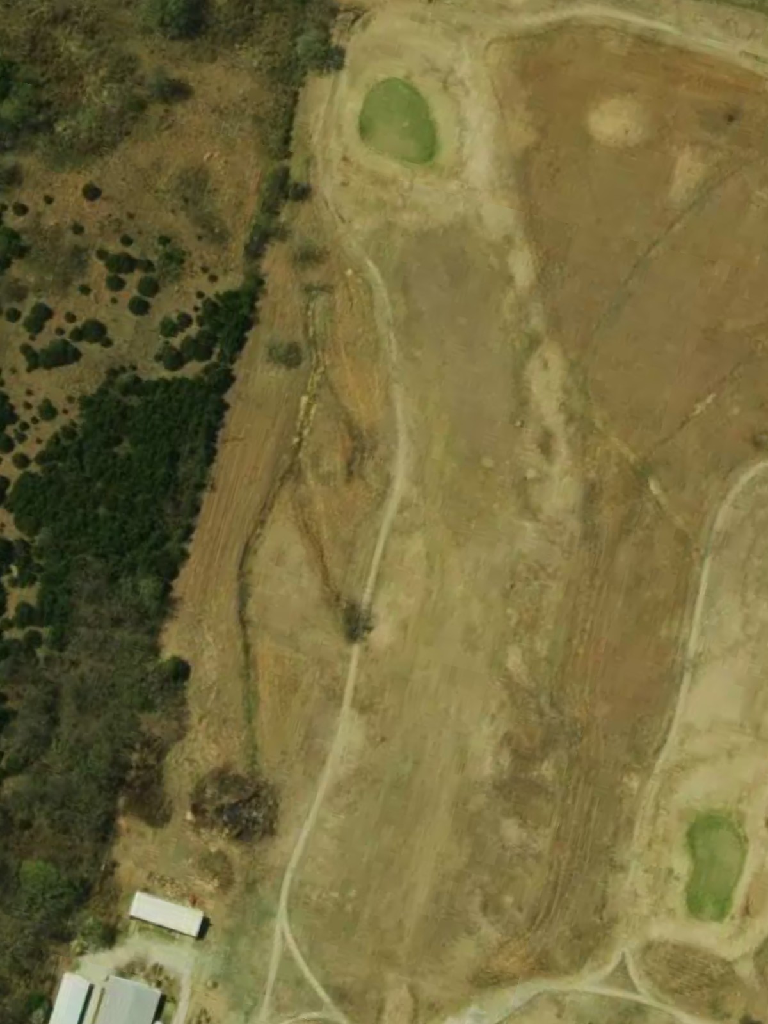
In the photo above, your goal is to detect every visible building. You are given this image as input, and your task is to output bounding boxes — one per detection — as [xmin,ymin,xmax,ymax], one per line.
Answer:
[93,972,161,1024]
[48,969,91,1024]
[129,893,203,938]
